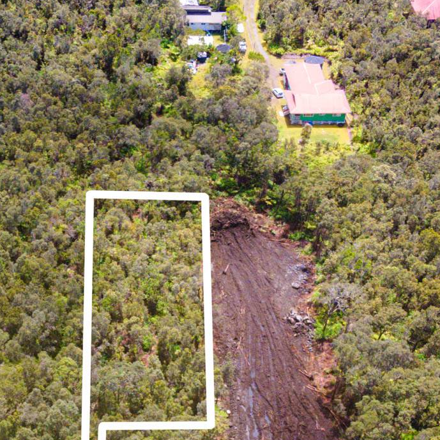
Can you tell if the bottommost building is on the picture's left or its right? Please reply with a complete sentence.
It is on the right.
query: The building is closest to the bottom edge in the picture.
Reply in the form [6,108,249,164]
[282,58,352,128]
